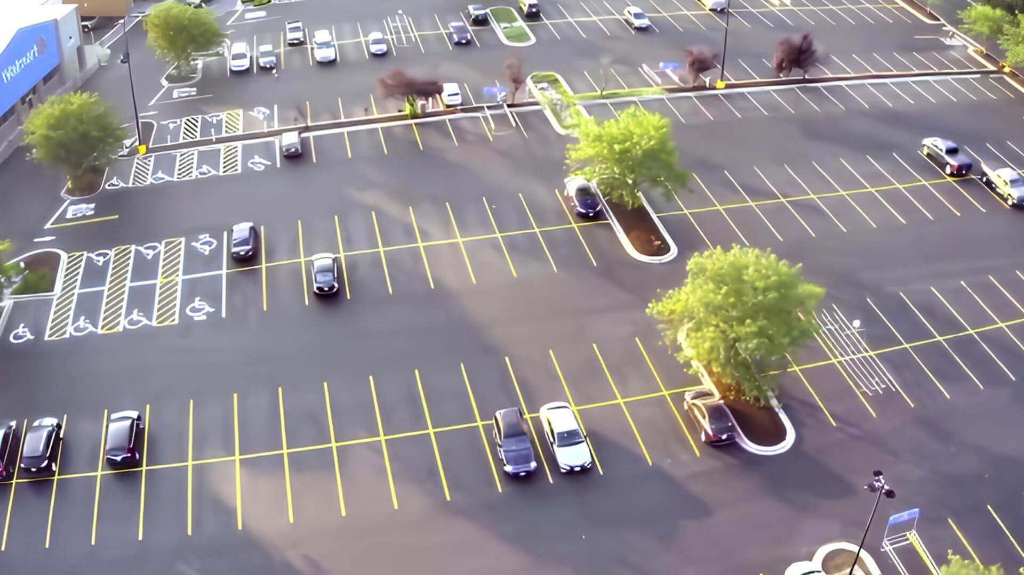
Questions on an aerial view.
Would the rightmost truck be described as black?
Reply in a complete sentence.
No, the color of the rightmost truck is white.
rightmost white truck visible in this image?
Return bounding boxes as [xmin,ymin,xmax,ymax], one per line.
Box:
[973,162,1024,206]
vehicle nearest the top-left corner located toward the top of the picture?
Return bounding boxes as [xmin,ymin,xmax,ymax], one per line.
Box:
[79,23,94,39]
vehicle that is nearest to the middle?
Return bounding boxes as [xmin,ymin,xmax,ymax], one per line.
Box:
[563,177,599,215]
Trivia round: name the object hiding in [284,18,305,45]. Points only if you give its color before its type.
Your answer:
white truck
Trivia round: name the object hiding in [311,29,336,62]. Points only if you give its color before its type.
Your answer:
white truck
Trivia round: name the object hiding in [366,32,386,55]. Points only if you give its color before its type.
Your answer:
white car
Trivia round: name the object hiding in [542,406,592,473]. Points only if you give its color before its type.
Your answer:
white car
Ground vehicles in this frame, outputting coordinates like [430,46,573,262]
[310,250,339,293]
[973,162,1024,206]
[284,18,305,45]
[447,20,470,44]
[311,29,336,62]
[20,413,62,472]
[104,408,141,466]
[684,389,734,444]
[563,177,599,215]
[366,32,386,55]
[227,37,251,71]
[623,6,650,29]
[227,221,256,260]
[79,23,94,39]
[920,136,972,176]
[489,406,535,475]
[255,43,276,68]
[0,424,15,480]
[700,0,724,10]
[277,125,302,156]
[770,0,789,5]
[438,74,462,106]
[542,406,592,473]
